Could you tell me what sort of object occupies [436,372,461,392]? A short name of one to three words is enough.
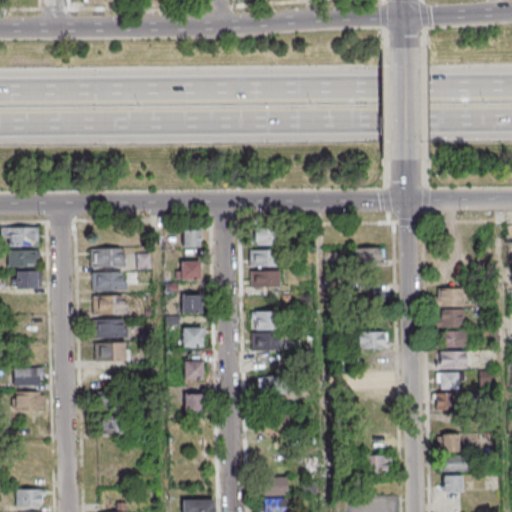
house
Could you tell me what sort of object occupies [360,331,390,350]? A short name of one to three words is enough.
house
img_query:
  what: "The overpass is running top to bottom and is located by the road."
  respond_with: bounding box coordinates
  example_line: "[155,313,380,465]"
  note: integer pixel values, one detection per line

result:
[384,28,428,186]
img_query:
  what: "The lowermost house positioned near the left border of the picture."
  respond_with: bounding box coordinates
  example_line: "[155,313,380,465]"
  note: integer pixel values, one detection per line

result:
[16,488,46,510]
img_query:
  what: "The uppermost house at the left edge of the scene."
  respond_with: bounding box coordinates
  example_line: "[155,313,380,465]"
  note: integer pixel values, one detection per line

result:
[2,226,40,248]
